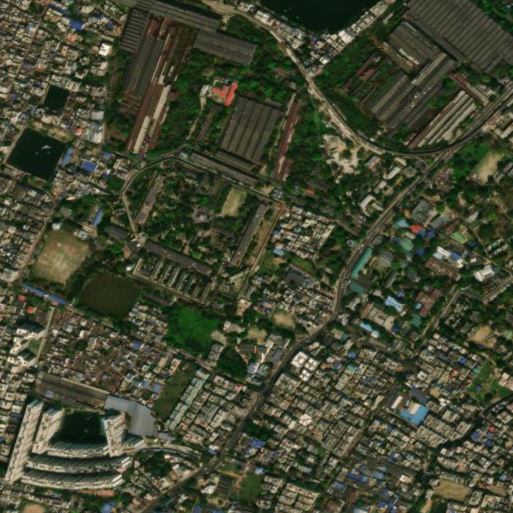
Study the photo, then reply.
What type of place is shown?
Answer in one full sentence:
This looks like a residential area.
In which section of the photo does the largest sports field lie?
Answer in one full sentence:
The largest sports field sits in the left section of the image.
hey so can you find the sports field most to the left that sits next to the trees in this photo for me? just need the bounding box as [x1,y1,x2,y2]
[34,229,90,283]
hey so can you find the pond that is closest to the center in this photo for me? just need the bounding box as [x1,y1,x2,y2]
[80,272,139,317]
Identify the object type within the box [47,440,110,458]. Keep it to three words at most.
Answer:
building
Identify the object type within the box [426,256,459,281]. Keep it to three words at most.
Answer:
shed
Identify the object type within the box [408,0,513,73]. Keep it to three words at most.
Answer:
shed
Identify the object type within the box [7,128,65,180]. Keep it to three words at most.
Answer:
pond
